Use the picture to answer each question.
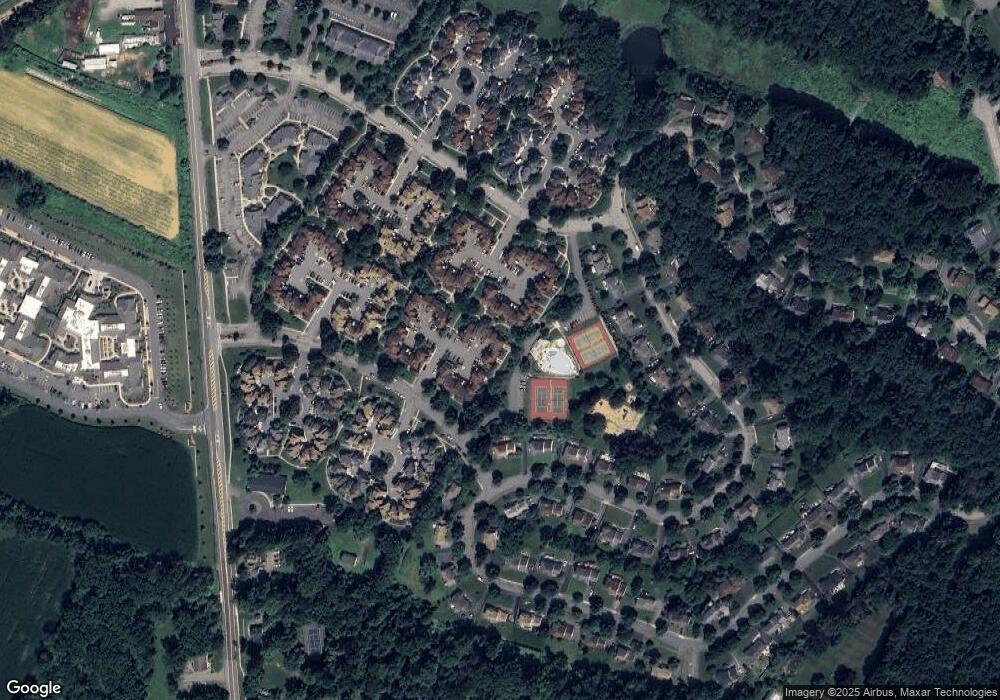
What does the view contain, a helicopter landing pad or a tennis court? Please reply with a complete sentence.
The image shows a tennis court.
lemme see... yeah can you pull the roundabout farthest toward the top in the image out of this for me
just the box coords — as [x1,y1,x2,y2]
[450,61,484,103]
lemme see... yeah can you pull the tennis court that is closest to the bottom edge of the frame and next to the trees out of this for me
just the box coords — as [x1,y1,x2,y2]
[304,625,324,655]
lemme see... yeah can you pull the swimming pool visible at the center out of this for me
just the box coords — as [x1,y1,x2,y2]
[530,337,580,376]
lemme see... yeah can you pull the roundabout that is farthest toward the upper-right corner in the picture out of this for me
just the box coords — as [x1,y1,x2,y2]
[544,127,578,171]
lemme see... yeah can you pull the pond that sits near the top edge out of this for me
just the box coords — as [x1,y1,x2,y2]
[622,26,672,99]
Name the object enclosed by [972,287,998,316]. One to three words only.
house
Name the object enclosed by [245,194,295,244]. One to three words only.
building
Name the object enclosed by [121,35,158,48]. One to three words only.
greenhouse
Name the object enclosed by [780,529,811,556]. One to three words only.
house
